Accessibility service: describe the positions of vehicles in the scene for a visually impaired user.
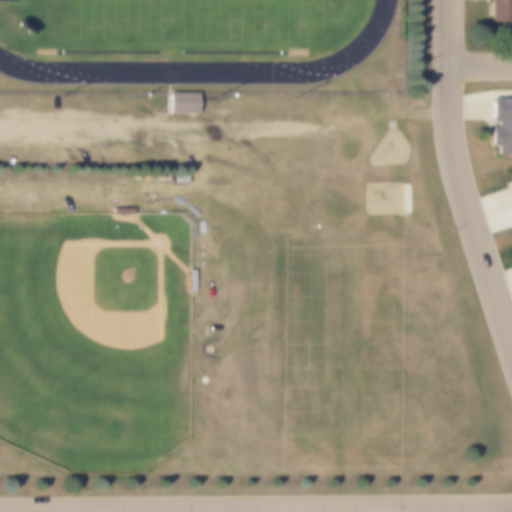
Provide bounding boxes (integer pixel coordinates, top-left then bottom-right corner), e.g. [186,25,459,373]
[210,282,216,296]
[211,324,224,330]
[54,96,60,108]
[35,497,49,502]
[65,196,76,210]
[484,254,491,266]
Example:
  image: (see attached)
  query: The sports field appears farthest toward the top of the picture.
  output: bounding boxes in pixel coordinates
[0,0,376,61]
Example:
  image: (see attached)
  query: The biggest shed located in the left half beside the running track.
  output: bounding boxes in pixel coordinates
[169,92,204,114]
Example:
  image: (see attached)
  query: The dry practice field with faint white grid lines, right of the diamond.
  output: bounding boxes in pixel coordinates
[284,216,406,470]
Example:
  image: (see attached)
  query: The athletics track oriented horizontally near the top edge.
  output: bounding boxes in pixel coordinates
[0,0,398,83]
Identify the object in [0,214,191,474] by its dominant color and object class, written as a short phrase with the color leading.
green baseball field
